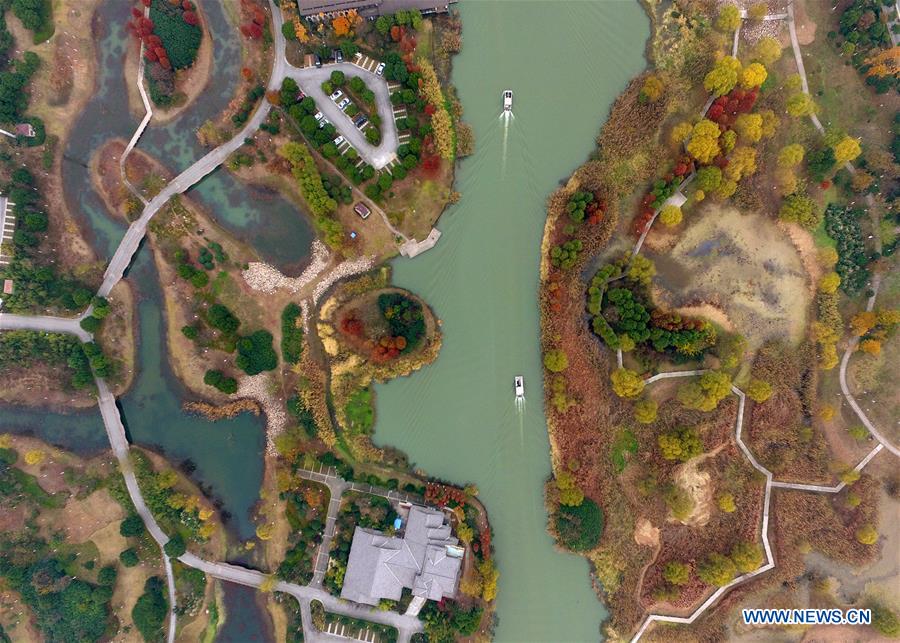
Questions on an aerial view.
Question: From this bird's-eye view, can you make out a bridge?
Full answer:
Yes, the picture does show a bridge.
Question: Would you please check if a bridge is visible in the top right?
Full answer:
No, there is no bridge in the top right.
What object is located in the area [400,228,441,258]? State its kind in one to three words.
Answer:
pier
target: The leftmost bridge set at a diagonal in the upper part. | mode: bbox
[98,220,150,288]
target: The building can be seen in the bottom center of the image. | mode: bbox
[340,503,468,611]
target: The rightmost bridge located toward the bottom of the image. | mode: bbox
[178,549,272,590]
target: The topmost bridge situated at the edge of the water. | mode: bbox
[166,143,231,197]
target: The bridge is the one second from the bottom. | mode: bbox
[96,389,132,458]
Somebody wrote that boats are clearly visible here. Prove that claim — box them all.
[515,375,524,394]
[503,90,512,112]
